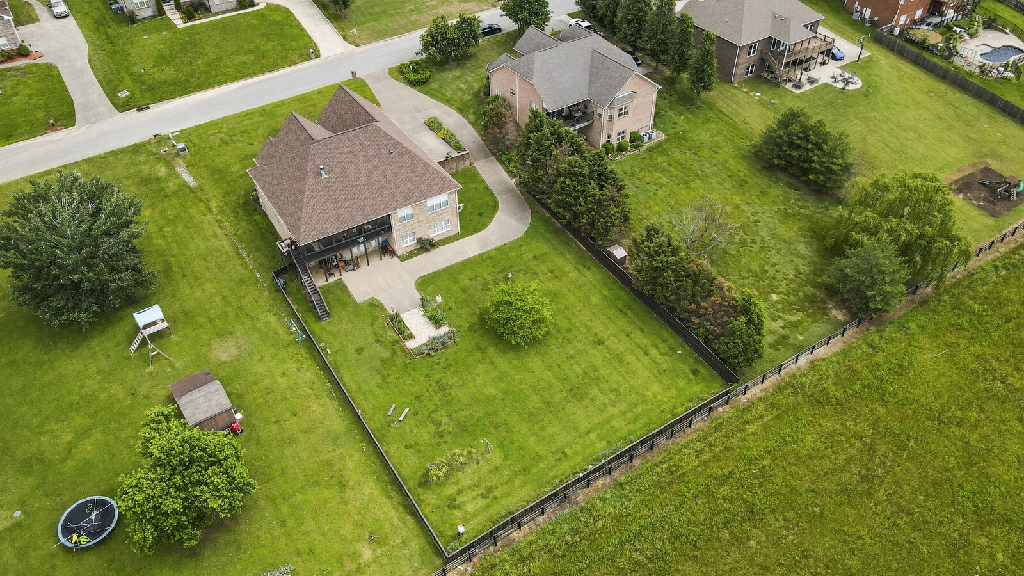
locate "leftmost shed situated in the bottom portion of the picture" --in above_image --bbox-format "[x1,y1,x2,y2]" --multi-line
[171,369,234,434]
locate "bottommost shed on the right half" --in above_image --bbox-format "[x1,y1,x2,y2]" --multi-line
[607,243,631,267]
